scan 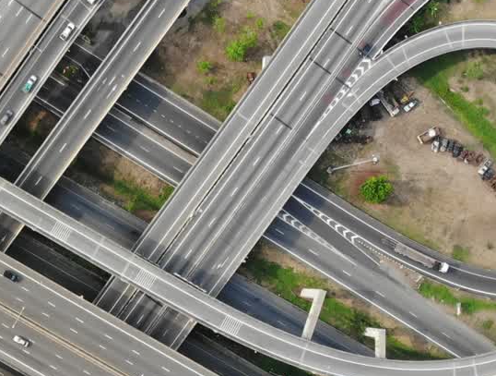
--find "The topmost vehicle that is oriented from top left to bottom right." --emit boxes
[377,88,404,115]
